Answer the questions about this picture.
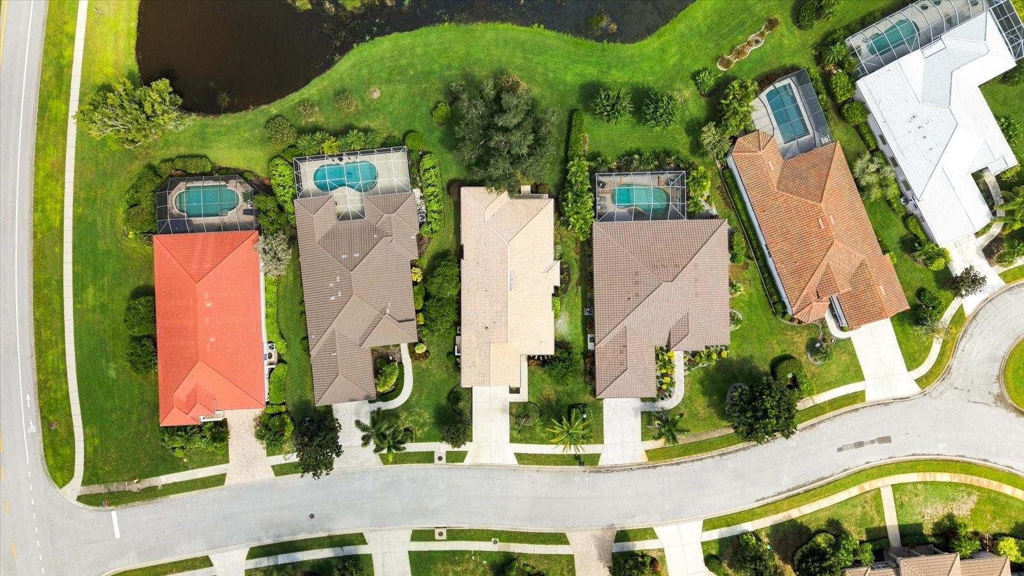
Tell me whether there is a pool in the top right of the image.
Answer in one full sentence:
Yes, the scene does show a pool in the top right of the image.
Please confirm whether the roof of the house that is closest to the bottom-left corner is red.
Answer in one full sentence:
Yes, red is the color of the roof of the house that is closest to the bottom-left corner.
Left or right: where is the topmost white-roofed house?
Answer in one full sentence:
The topmost white-roofed house appears in the right half of the scene.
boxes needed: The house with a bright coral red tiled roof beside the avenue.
[153,229,270,427]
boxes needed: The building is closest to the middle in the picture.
[460,186,560,388]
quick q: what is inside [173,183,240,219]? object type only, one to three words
swimming pool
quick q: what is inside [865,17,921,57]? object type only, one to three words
swimming pool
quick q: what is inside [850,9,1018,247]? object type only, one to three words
house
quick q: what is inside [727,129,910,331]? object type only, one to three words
house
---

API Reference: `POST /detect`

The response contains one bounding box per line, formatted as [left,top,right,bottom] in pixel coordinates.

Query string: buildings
[460,186,560,388]
[294,191,420,406]
[850,9,1018,247]
[838,544,1009,576]
[153,229,270,427]
[592,218,731,399]
[727,129,910,331]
